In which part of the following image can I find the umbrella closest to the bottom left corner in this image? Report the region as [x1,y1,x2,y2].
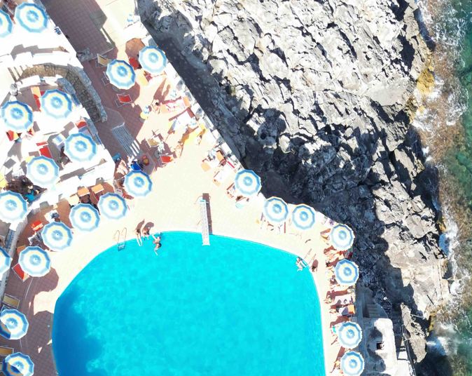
[0,352,34,376]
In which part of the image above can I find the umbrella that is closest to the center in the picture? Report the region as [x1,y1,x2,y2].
[233,170,258,198]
